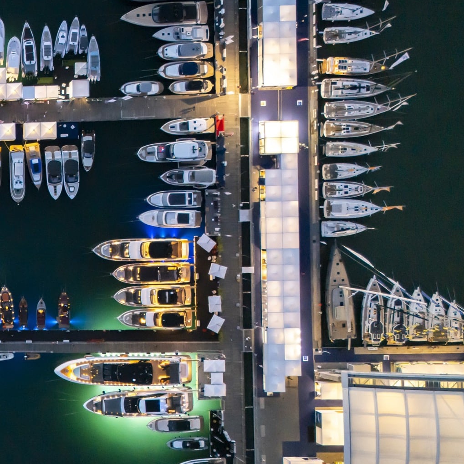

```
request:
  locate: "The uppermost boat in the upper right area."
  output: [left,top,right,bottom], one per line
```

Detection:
[319,0,381,21]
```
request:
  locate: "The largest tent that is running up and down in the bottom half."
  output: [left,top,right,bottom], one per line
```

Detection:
[258,201,301,393]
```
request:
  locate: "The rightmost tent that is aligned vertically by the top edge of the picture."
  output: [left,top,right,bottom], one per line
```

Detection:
[256,0,297,89]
